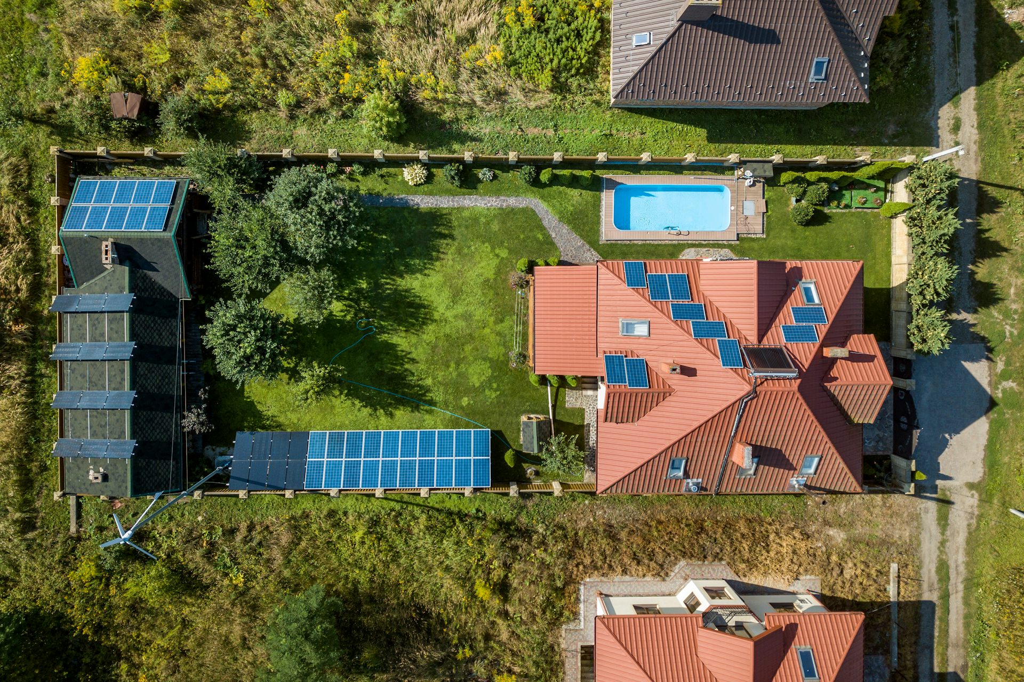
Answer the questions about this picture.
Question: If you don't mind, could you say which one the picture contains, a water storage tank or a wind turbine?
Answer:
wind turbine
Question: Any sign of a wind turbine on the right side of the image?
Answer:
No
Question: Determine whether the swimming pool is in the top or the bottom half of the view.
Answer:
top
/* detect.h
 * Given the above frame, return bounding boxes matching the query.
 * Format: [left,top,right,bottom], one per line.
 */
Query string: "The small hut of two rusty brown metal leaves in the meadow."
[110,93,151,123]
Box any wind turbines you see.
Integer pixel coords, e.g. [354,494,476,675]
[88,461,233,555]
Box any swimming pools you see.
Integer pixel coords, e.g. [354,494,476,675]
[612,183,732,232]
